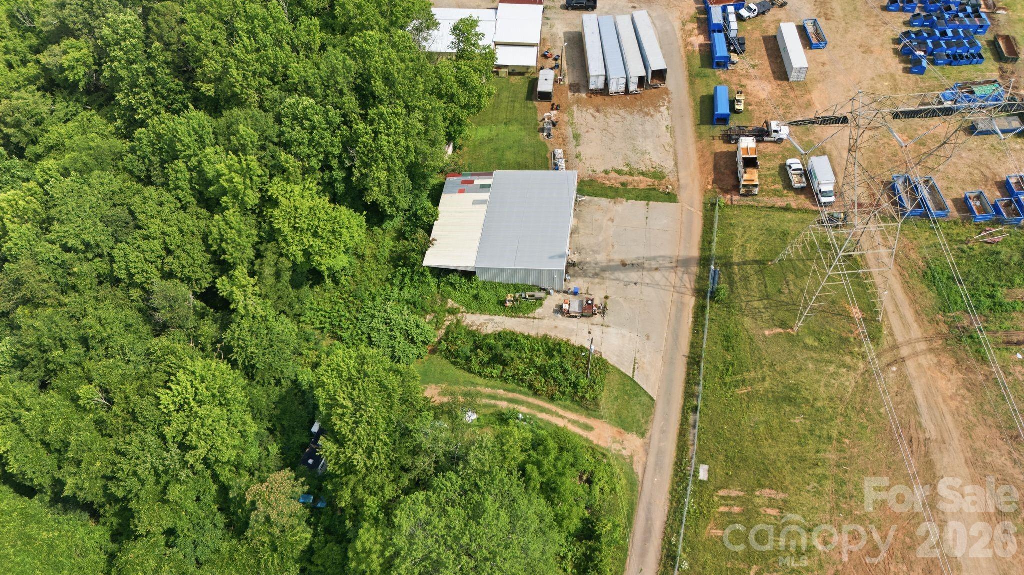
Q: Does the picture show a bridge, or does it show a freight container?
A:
freight container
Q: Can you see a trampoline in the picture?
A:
No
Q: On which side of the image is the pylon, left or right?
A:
right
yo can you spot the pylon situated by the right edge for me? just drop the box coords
[770,77,1024,332]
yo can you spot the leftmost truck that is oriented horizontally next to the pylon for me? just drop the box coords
[724,120,791,142]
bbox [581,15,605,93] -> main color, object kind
white trailer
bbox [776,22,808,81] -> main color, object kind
white shipping container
